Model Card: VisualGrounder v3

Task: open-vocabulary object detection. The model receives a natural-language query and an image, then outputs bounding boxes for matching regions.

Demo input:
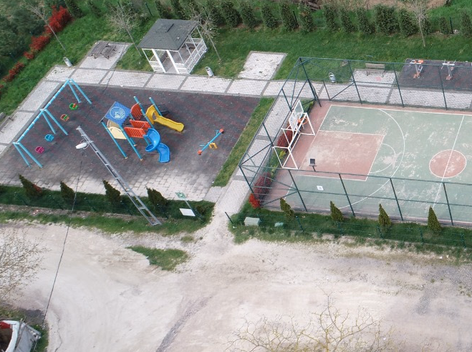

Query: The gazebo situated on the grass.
[135,19,206,73]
